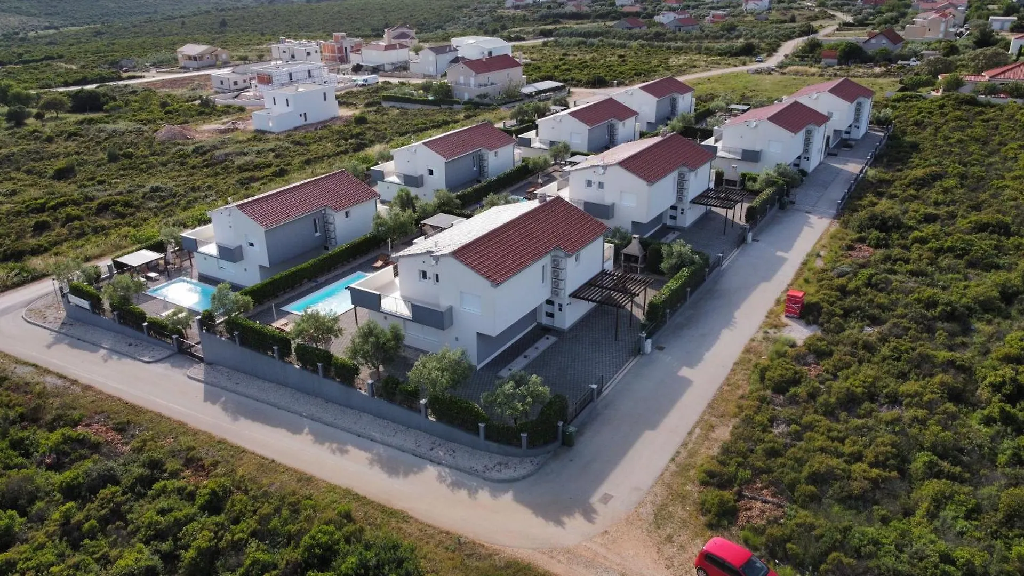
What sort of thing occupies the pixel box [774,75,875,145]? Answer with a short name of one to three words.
house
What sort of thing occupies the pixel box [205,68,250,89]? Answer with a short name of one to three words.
house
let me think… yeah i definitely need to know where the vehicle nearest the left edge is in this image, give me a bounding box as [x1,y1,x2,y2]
[351,71,379,85]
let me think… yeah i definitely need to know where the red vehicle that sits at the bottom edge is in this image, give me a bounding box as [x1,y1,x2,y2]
[692,539,769,576]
